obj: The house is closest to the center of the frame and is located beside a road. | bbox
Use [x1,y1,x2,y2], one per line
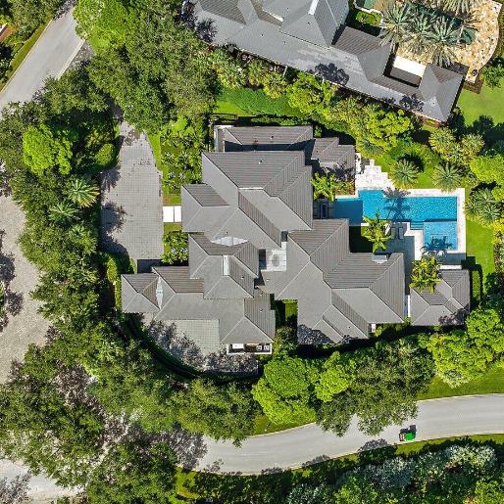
[121,125,410,345]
